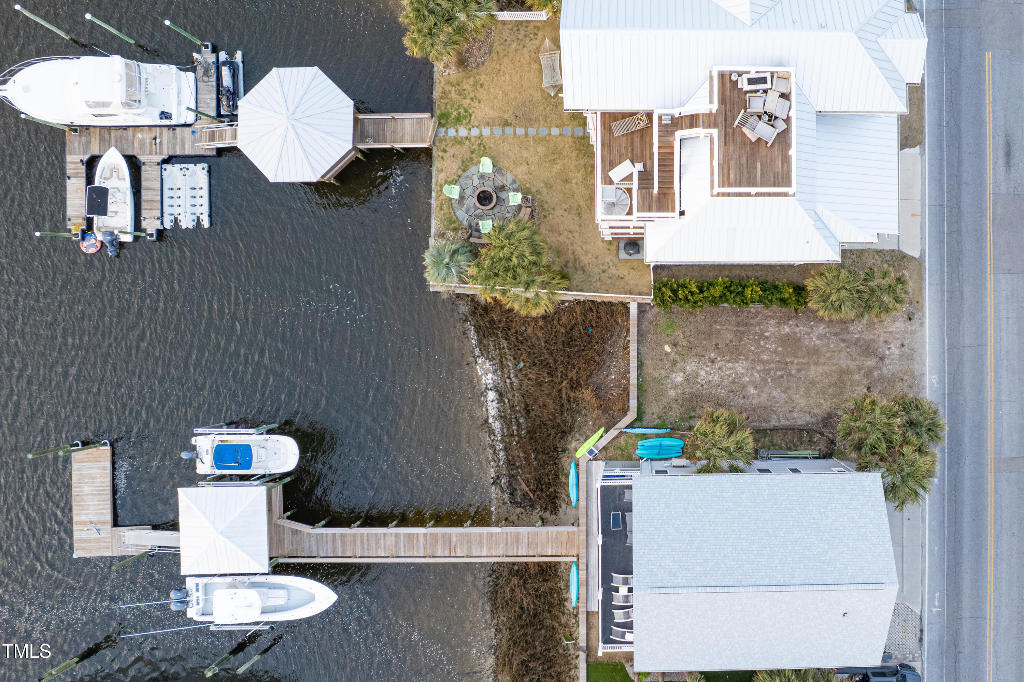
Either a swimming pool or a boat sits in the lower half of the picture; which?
boat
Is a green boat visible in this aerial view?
Yes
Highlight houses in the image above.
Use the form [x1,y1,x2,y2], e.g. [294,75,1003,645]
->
[598,458,899,672]
[557,0,928,269]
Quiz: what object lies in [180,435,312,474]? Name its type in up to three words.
boat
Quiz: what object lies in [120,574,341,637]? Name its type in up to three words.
boat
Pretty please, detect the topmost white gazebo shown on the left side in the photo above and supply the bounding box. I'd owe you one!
[237,65,380,196]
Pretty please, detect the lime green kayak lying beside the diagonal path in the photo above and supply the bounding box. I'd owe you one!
[577,429,604,458]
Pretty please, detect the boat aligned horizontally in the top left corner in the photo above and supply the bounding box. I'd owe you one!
[0,38,195,127]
